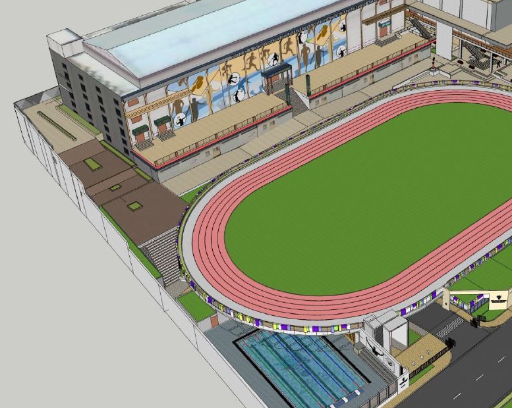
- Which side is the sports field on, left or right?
right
